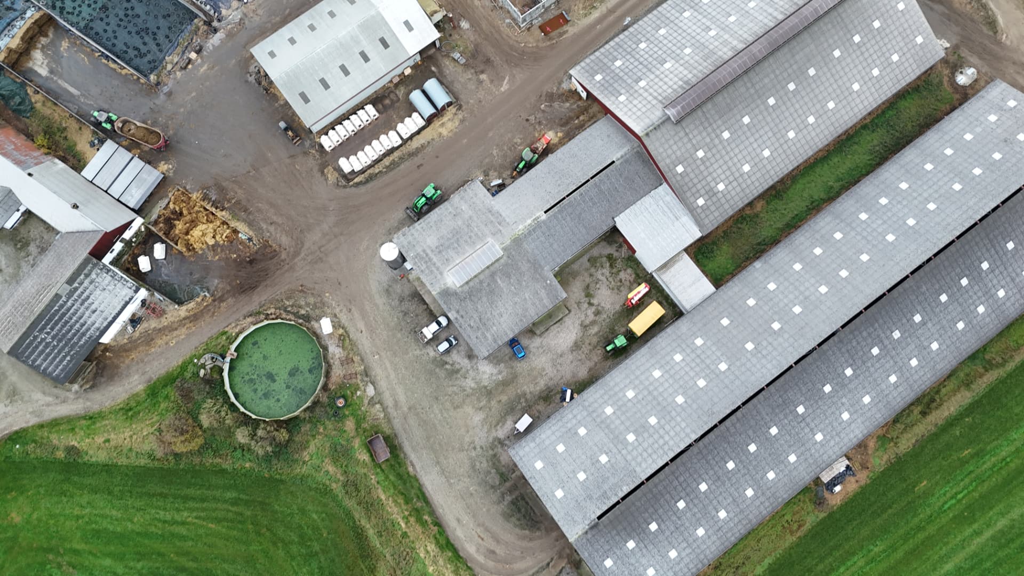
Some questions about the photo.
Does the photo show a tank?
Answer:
Yes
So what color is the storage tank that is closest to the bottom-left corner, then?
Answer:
green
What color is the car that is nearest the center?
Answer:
blue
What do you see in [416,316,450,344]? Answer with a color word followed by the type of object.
white truck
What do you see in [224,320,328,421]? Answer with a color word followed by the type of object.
green storage tank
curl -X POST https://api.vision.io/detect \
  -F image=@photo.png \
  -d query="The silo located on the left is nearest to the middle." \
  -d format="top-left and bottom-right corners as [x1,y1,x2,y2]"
[381,243,413,273]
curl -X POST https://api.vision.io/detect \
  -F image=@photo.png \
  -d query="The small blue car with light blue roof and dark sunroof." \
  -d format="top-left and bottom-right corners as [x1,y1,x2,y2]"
[508,336,528,361]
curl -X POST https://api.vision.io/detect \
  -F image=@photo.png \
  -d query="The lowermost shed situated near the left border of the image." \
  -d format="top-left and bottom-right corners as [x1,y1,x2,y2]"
[0,230,145,387]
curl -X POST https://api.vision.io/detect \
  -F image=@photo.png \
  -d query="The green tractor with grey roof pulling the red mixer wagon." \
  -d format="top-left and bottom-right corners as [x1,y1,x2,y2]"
[87,108,120,132]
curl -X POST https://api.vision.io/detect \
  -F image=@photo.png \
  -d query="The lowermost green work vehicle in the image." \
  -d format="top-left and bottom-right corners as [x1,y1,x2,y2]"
[599,330,632,359]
